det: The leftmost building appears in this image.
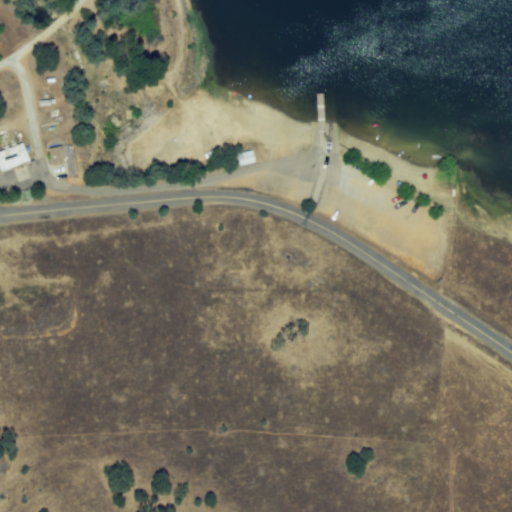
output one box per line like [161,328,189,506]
[0,143,31,173]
